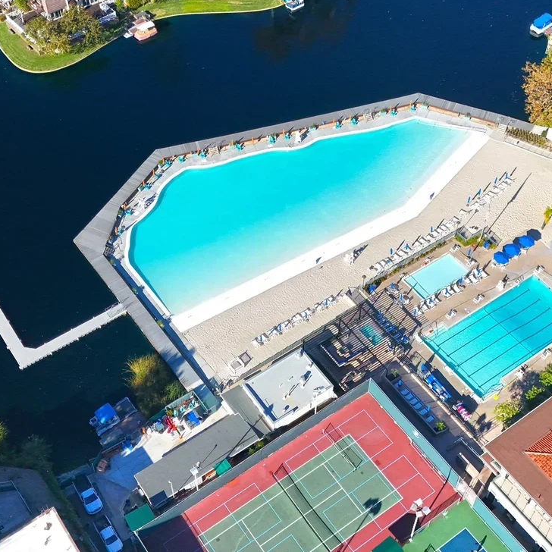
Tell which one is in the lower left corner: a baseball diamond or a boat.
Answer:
boat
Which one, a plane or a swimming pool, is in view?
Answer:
swimming pool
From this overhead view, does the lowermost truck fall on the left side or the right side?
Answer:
left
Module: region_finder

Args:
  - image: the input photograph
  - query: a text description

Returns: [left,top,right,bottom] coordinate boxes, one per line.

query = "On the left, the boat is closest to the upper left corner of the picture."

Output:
[123,18,161,40]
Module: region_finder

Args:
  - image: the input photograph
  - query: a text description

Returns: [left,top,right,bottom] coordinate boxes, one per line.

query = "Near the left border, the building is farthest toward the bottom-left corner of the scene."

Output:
[0,505,83,552]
